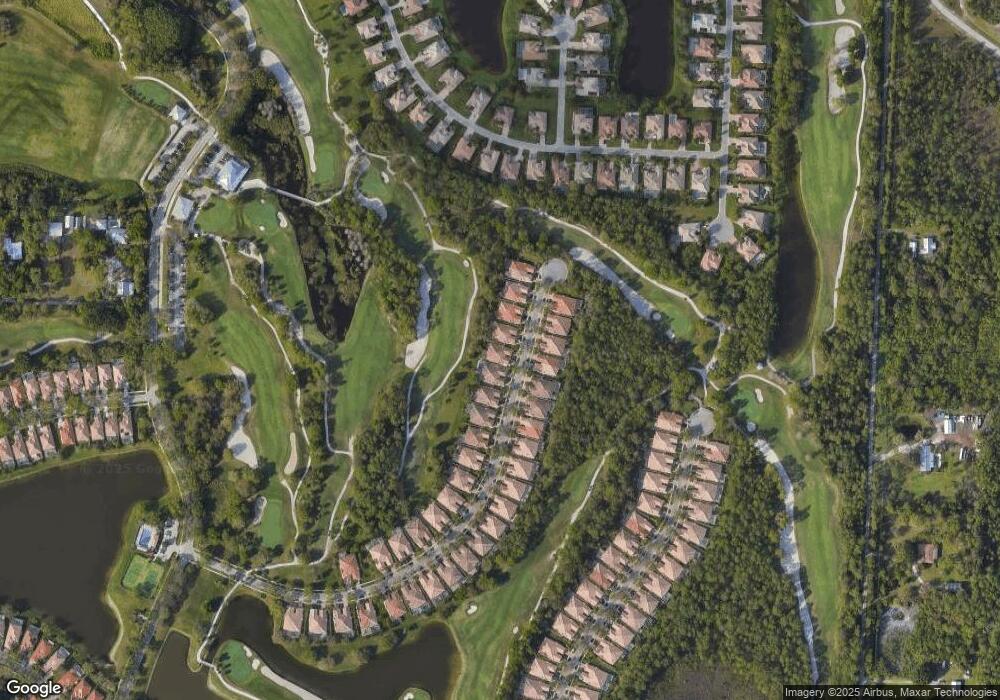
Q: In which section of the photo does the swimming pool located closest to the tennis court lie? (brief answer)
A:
bottom left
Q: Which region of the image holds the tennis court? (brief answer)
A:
bottom left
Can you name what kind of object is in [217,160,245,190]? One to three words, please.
building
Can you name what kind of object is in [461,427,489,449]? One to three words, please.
house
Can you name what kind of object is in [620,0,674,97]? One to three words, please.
pond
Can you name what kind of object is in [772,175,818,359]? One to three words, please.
pond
